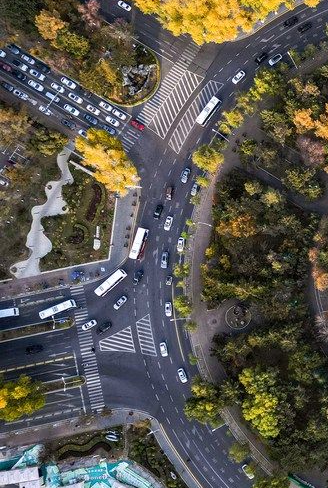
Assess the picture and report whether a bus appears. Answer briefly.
Yes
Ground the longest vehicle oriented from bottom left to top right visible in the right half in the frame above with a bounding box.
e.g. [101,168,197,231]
[195,94,227,129]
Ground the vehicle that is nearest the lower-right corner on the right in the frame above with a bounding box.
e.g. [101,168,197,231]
[241,465,254,478]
